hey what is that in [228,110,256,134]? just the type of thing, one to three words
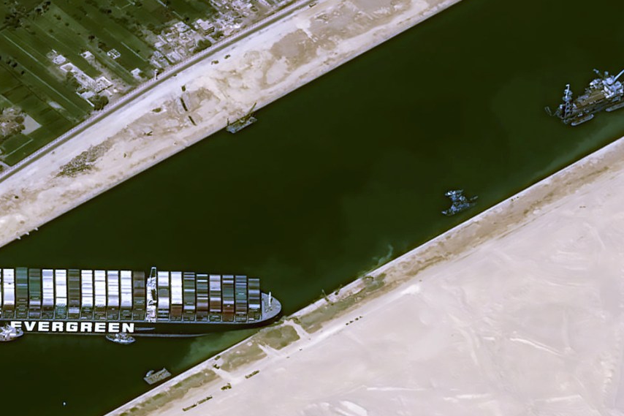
ship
